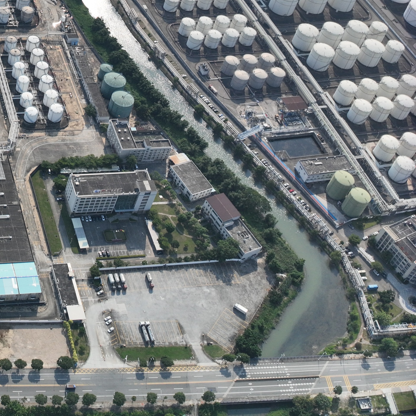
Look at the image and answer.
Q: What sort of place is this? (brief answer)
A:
industrial area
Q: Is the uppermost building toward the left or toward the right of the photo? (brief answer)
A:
left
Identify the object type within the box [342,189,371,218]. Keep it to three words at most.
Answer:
storage tank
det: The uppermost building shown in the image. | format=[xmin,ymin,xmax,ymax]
[59,20,79,46]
